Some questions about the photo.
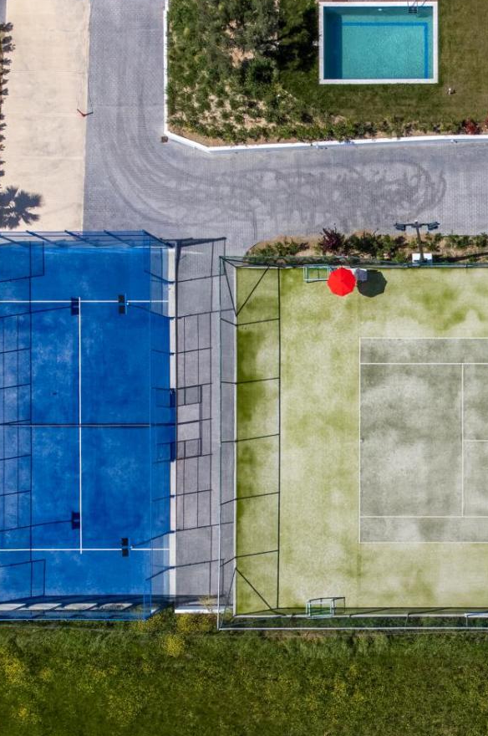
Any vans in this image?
No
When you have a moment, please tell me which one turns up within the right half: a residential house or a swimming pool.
swimming pool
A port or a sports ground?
sports ground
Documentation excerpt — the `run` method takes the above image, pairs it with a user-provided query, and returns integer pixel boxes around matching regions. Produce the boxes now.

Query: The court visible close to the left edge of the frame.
[0,240,176,611]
